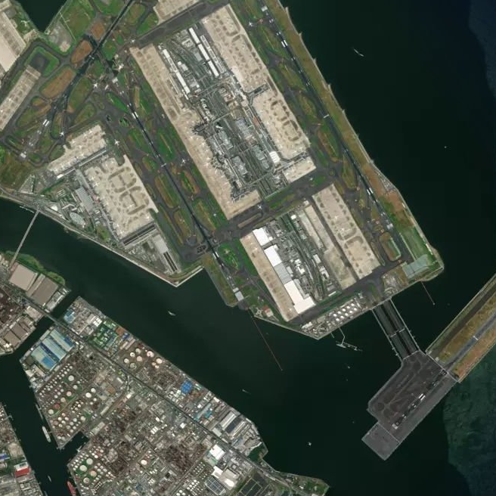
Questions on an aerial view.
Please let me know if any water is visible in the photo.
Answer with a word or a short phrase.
Yes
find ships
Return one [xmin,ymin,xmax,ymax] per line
[67,481,77,496]
[43,426,51,443]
